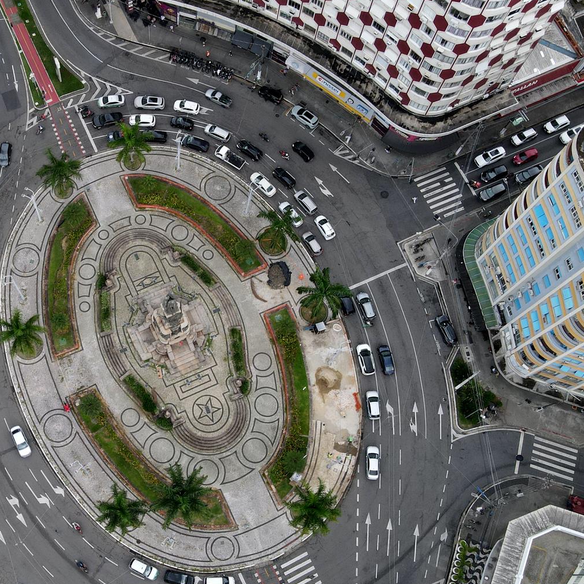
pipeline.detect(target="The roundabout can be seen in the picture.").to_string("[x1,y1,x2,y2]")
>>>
[0,146,362,572]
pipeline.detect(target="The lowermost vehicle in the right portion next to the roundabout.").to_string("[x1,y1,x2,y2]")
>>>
[365,446,381,481]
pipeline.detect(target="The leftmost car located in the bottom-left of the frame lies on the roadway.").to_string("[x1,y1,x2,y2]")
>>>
[9,425,31,459]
